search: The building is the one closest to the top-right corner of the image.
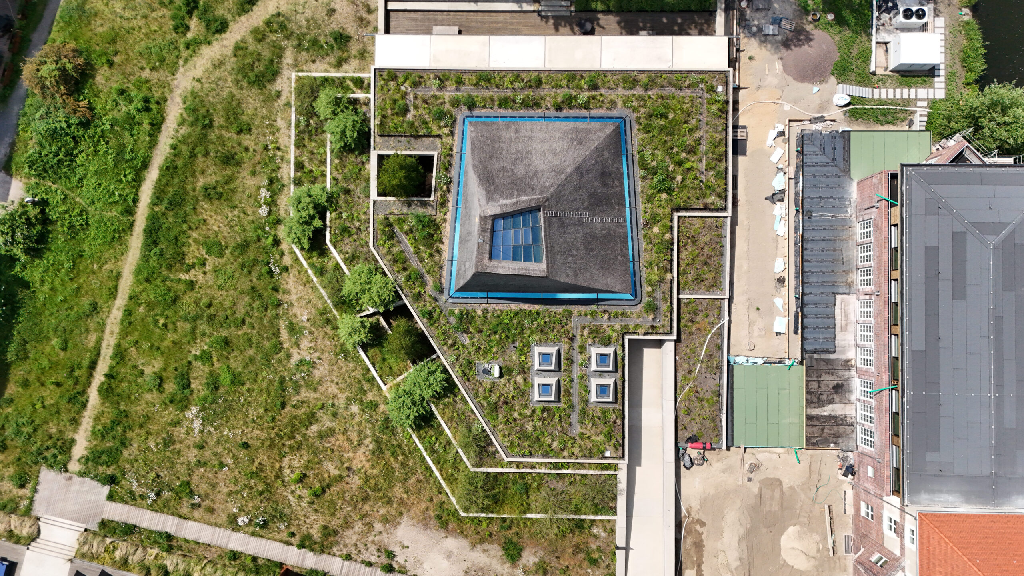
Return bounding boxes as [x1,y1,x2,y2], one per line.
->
[885,33,940,72]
